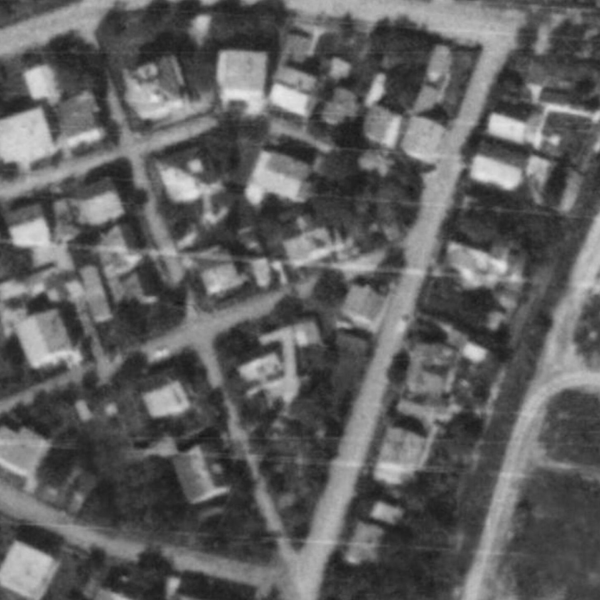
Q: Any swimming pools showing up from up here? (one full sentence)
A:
No, I find no swimming pool anywhere in the image.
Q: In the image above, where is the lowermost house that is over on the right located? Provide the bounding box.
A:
[347,522,383,564]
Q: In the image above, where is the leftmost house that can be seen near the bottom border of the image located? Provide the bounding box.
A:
[0,542,60,600]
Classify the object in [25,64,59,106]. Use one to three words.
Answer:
house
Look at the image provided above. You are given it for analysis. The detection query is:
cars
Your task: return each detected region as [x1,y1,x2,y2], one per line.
[154,347,172,359]
[396,320,406,334]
